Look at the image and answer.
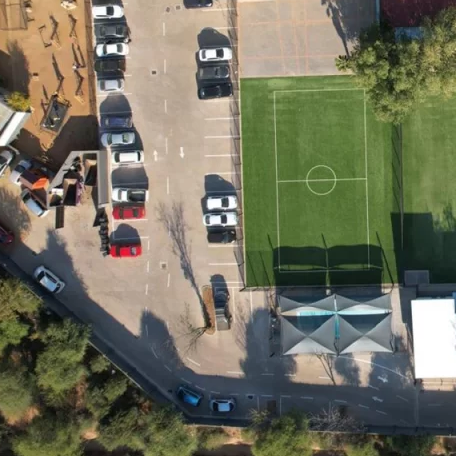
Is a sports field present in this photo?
Yes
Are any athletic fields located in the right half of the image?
Yes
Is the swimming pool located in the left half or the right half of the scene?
right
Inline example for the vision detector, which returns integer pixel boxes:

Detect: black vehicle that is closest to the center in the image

[204,228,241,243]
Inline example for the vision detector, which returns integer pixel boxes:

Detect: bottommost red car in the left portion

[112,243,142,258]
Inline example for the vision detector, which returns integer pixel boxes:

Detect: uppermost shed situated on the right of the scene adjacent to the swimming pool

[404,267,429,286]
